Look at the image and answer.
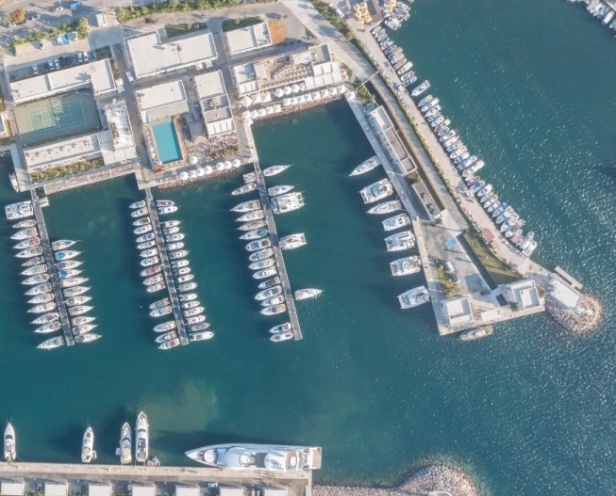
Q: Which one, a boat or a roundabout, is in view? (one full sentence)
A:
I can see a boat in this picture.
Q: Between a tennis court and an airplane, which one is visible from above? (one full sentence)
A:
This aerial view contains a tennis court.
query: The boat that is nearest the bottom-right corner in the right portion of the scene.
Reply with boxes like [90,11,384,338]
[459,322,495,340]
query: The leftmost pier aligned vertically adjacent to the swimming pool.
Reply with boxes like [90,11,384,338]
[144,187,188,344]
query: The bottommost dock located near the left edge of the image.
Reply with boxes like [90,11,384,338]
[29,188,74,345]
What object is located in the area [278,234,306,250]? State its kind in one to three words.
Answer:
boat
